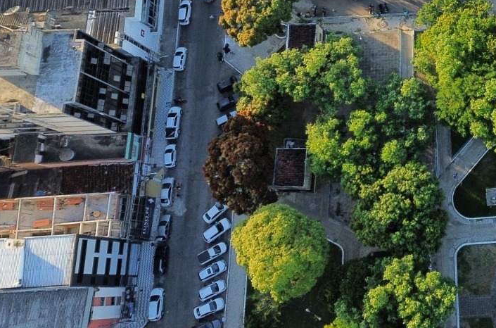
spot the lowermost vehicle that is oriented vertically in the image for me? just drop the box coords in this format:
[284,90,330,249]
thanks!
[148,288,166,322]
